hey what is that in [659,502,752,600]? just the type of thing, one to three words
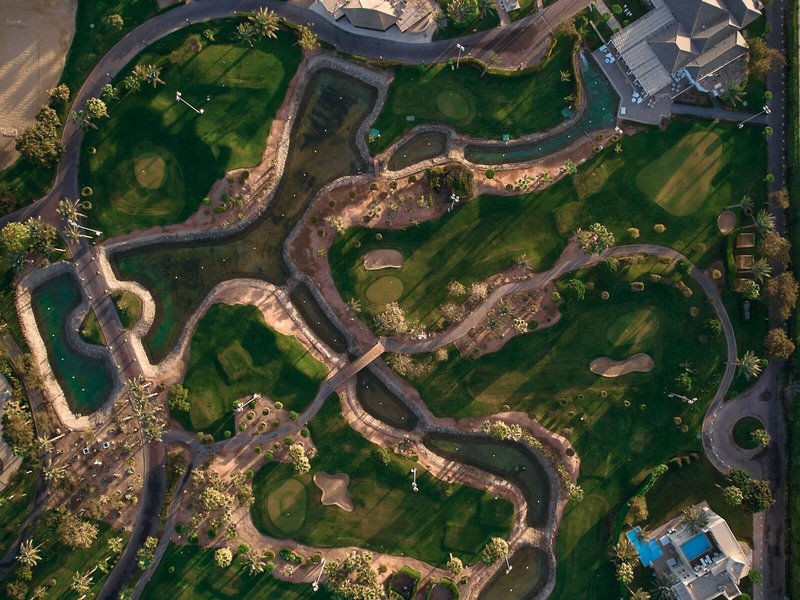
house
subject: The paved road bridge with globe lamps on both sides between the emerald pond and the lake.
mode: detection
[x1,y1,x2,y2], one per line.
[76,260,141,380]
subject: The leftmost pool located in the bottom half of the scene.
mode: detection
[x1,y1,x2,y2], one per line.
[626,527,664,568]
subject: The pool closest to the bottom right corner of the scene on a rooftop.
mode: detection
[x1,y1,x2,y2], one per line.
[680,532,712,562]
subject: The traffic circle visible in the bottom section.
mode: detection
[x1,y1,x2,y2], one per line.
[731,416,766,451]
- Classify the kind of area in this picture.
golf course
